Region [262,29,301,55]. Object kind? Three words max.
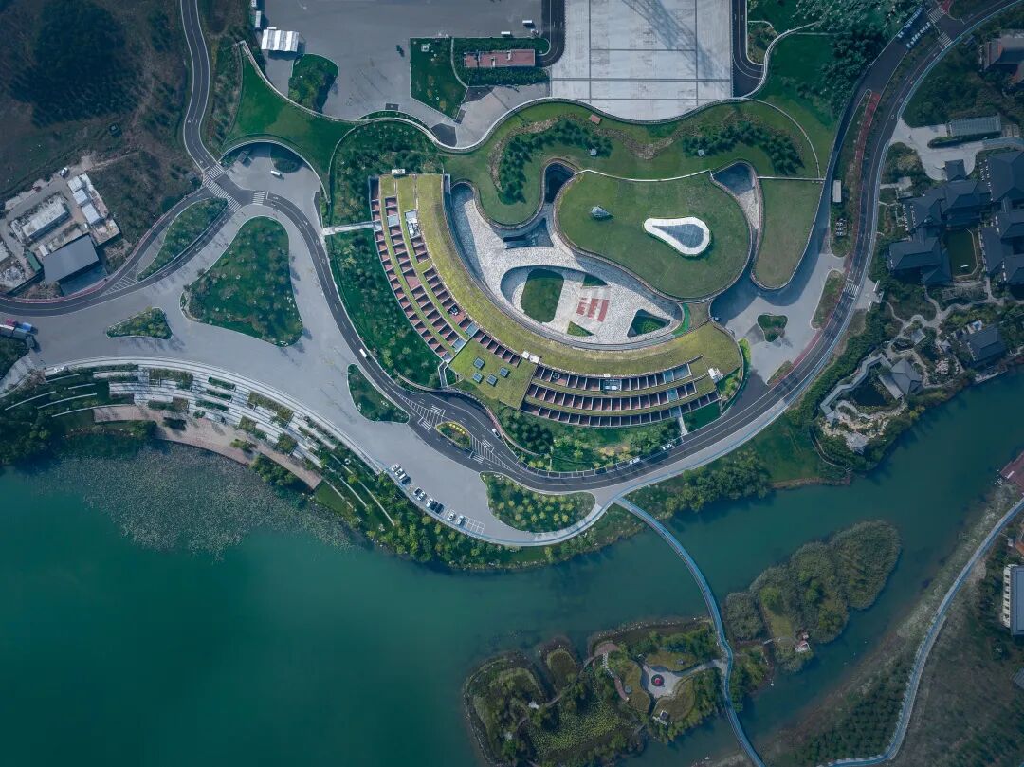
tent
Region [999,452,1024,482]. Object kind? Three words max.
pier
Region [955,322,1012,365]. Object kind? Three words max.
building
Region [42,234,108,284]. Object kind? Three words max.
shed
